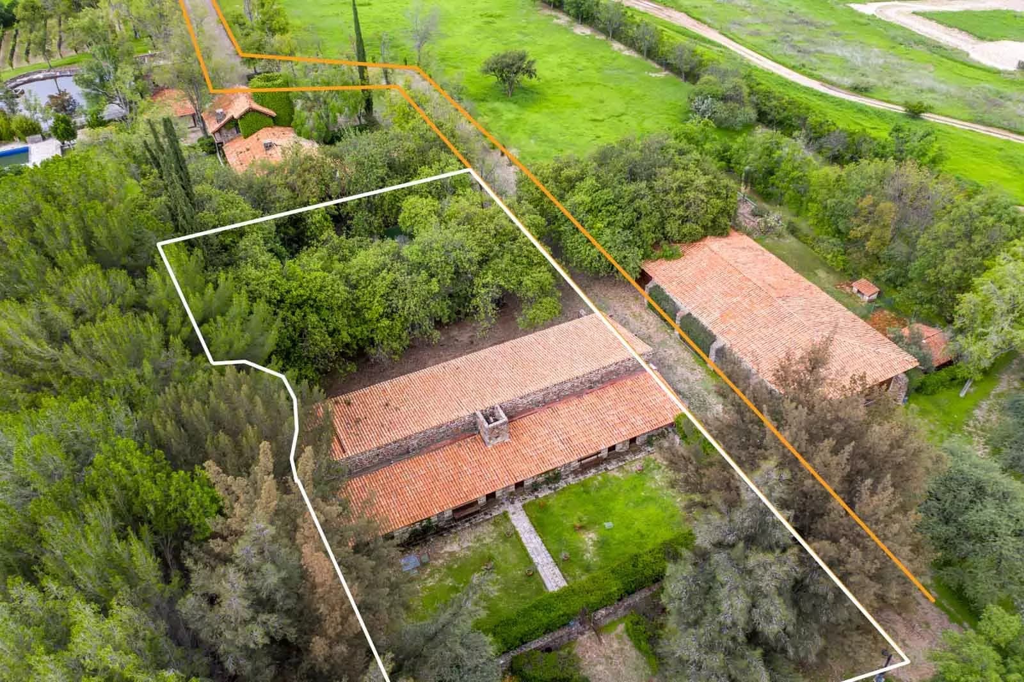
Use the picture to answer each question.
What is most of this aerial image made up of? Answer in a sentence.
The scene is dominated by trees.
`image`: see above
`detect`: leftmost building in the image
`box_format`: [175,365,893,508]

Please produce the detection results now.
[15,131,49,145]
